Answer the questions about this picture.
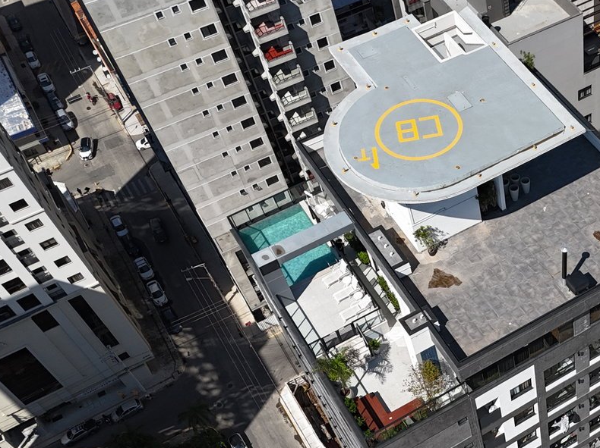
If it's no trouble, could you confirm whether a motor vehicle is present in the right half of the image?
No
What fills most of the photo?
buildings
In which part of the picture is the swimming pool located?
center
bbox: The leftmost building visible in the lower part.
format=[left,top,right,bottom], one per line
[0,107,162,448]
